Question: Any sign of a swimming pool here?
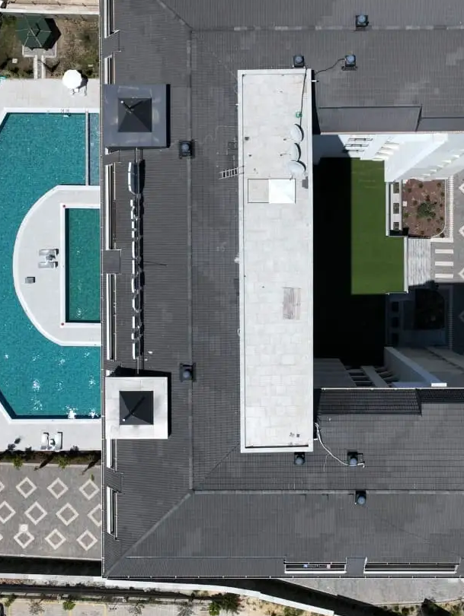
Yes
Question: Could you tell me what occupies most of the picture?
buildings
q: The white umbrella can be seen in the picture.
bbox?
[62,69,83,89]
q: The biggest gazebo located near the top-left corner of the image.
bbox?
[15,17,59,54]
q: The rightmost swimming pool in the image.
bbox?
[62,203,101,327]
